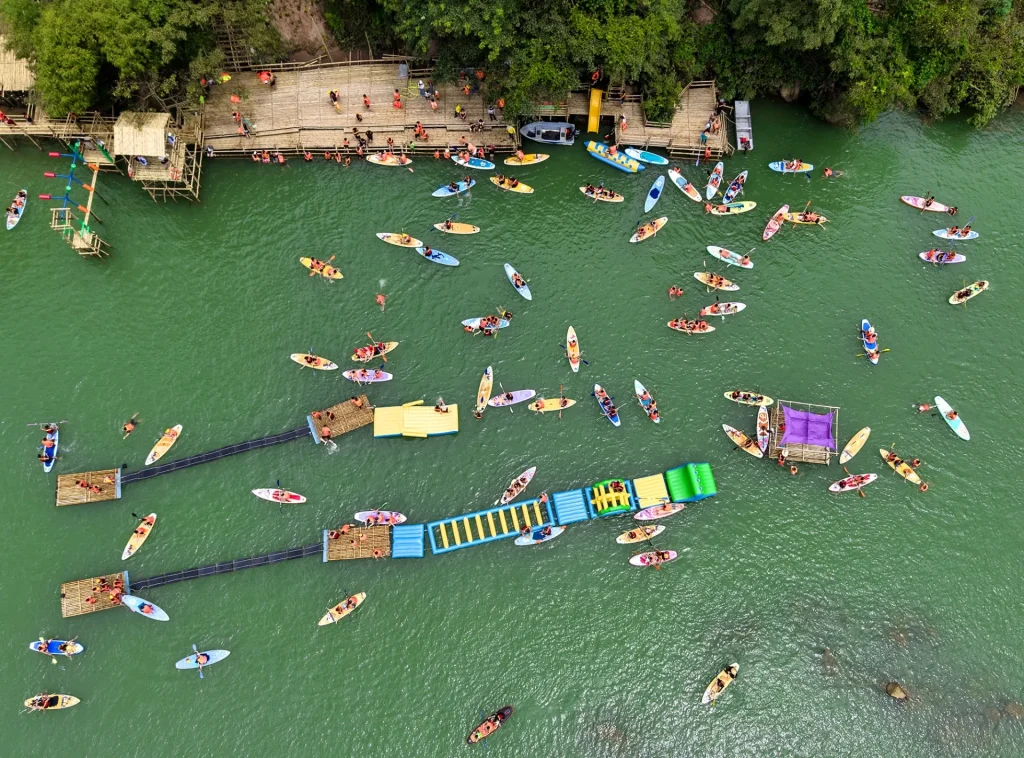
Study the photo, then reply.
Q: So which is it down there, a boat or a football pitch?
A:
boat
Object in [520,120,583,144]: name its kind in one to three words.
boat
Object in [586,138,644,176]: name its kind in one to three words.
boat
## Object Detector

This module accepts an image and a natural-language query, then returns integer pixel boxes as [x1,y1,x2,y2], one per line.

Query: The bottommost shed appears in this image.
[109,110,204,202]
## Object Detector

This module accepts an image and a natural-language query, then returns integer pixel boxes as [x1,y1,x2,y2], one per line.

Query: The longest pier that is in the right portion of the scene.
[540,79,735,160]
